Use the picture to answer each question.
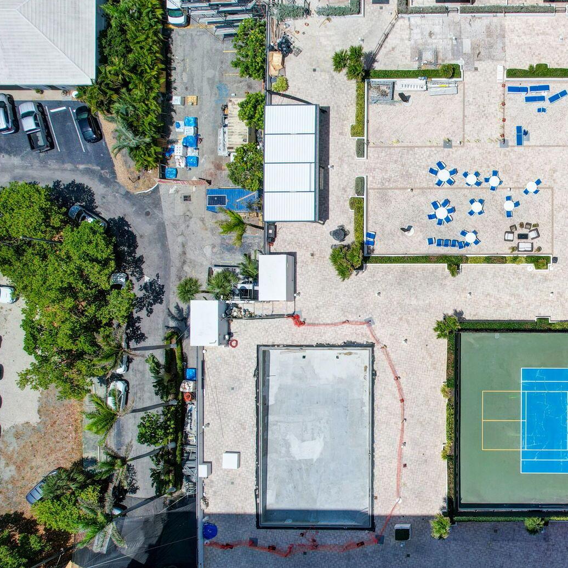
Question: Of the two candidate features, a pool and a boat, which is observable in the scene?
pool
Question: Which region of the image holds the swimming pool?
bottom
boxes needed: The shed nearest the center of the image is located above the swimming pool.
[259,254,294,300]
